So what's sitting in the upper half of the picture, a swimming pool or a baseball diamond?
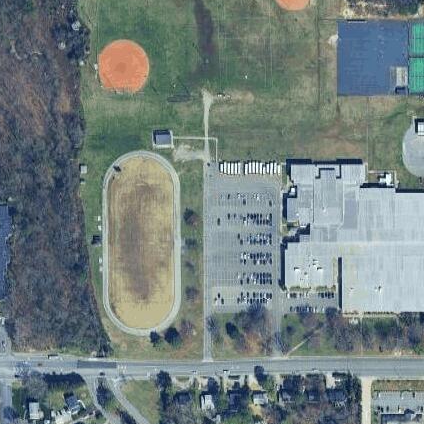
baseball diamond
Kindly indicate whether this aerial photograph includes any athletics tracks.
Yes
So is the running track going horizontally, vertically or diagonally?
vertically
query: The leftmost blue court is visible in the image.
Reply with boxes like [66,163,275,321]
[337,20,408,95]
